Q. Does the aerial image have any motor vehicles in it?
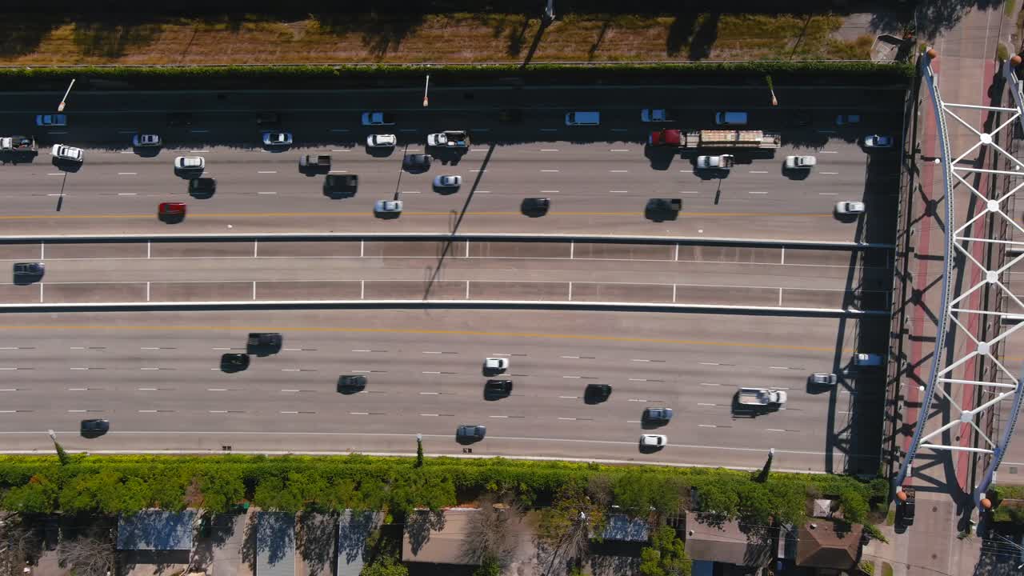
Yes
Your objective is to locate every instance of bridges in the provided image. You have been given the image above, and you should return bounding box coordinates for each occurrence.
[880,48,1024,507]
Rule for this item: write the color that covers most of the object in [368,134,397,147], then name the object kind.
white vehicle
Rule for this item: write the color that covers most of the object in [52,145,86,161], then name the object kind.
white car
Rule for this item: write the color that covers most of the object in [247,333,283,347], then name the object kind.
black vehicle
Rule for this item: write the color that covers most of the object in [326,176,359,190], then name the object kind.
black vehicle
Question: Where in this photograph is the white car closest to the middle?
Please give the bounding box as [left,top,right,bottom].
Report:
[486,358,509,370]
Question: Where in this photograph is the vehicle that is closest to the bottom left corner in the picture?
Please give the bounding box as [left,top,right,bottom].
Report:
[82,419,111,432]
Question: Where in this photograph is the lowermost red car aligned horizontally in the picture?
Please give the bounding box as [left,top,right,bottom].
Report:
[160,201,188,215]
